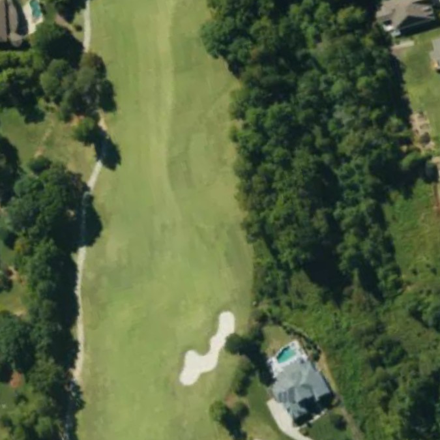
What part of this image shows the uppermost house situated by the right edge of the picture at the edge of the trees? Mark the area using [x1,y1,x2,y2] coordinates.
[377,0,437,35]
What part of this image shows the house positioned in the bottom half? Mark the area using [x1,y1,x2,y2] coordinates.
[272,360,331,427]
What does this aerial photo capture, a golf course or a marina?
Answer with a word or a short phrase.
golf course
